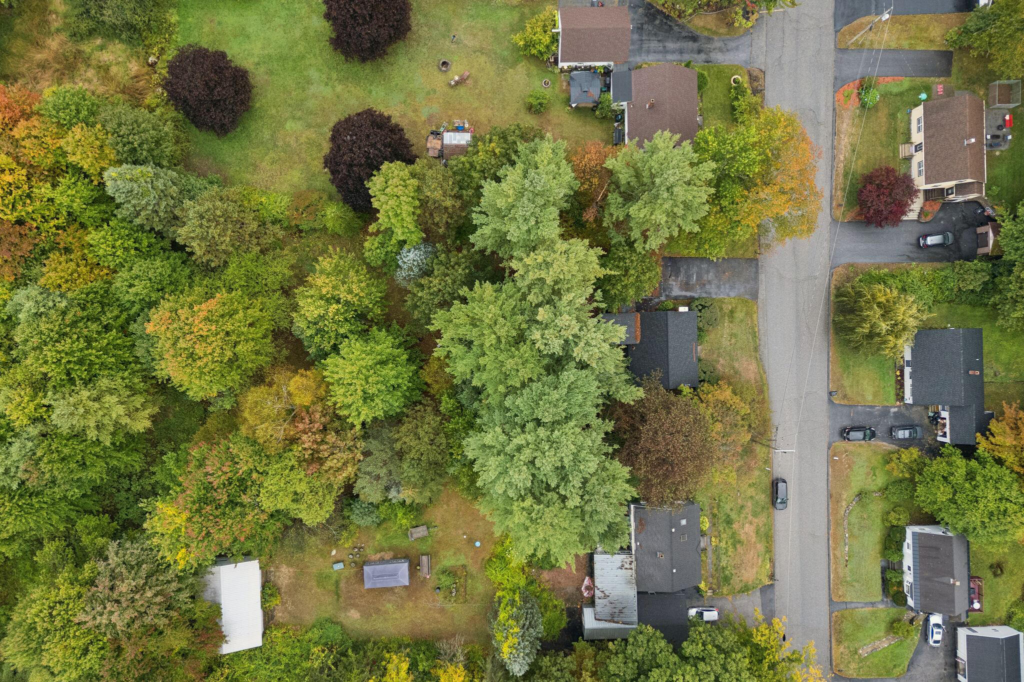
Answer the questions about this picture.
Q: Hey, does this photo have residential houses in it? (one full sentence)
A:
Yes, a residential house appears in the view.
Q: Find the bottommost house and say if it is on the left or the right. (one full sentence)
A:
You can find the bottommost house on the right side of the picture.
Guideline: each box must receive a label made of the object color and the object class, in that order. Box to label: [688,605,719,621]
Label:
white car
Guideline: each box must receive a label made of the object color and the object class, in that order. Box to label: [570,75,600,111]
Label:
gray gazebo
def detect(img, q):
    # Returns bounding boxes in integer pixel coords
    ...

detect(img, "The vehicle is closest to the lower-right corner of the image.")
[926,612,943,647]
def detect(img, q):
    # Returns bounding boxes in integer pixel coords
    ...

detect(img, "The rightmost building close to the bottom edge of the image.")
[954,627,1021,682]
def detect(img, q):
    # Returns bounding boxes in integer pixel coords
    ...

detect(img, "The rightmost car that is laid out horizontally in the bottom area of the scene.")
[888,425,921,440]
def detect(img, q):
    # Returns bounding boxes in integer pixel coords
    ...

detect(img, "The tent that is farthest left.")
[364,558,411,588]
